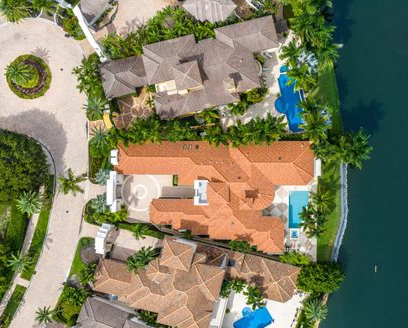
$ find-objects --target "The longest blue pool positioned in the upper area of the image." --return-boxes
[272,72,306,134]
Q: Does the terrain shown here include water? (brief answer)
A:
Yes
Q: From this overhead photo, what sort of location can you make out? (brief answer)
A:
residential area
